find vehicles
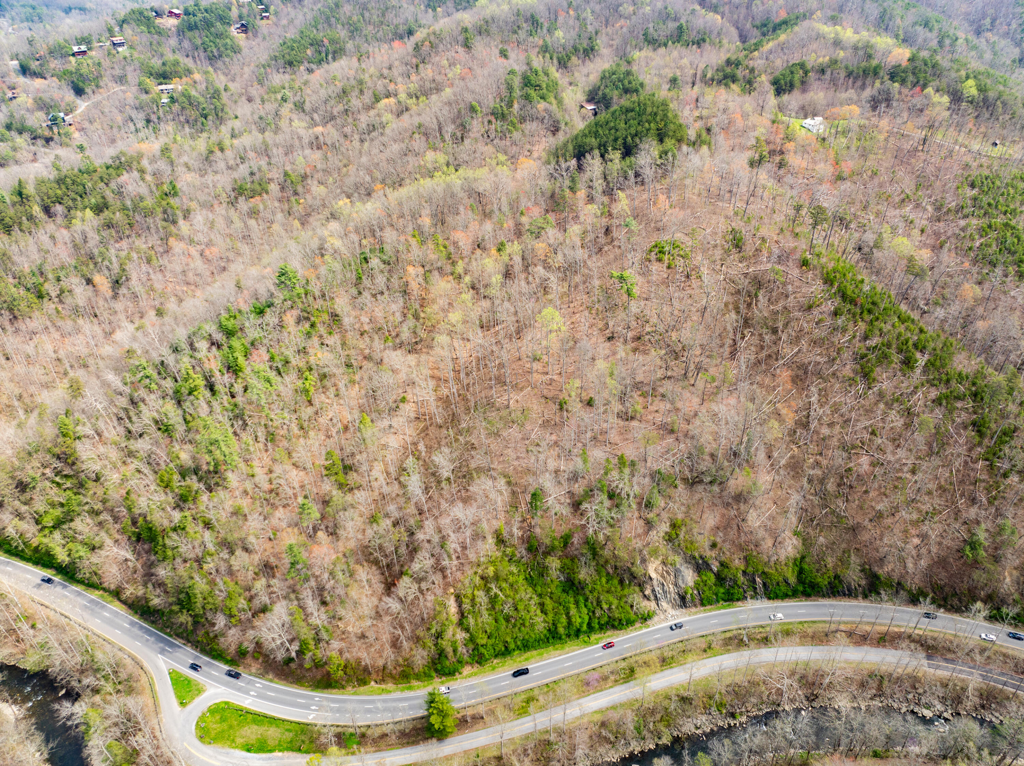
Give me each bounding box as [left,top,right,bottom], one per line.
[670,621,684,630]
[770,613,784,620]
[923,612,938,619]
[436,685,451,694]
[981,634,997,641]
[512,667,529,677]
[189,663,202,672]
[1010,633,1024,641]
[602,641,615,649]
[225,669,241,679]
